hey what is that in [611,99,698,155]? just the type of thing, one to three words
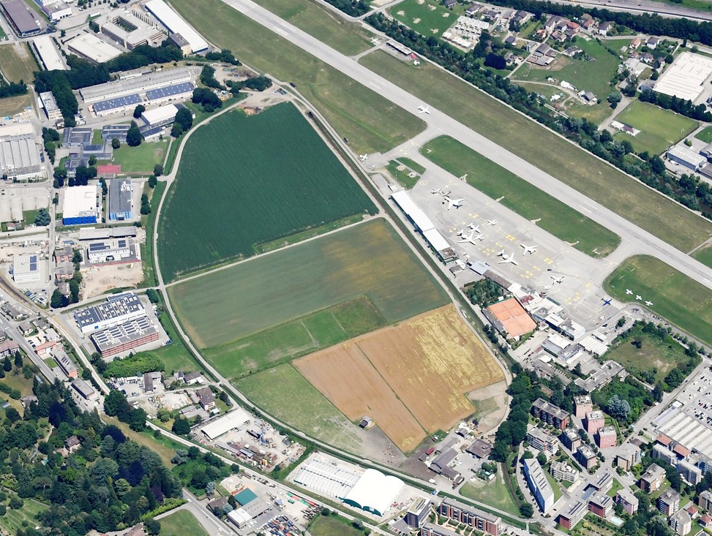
sports field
